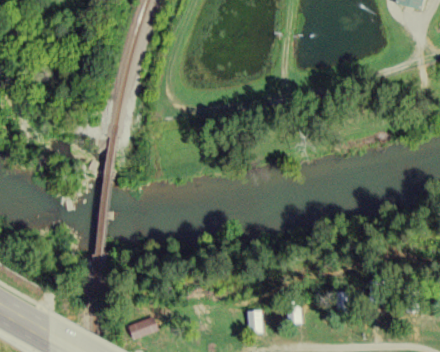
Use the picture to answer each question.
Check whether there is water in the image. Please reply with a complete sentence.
Yes, the picture does contain water.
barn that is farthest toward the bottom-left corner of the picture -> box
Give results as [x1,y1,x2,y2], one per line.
[128,316,158,340]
